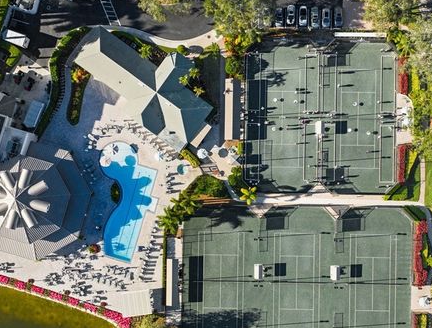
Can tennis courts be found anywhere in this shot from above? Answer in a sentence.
Yes, there is a tennis court in the image.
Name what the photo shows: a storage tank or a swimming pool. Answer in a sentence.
I can see a swimming pool in this picture.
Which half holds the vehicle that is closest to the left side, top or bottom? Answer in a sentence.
You can find the vehicle that is closest to the left side in the top half.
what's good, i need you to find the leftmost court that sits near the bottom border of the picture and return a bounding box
[181,206,260,328]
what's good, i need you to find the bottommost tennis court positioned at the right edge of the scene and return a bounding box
[336,207,413,328]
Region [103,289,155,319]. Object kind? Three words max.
building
